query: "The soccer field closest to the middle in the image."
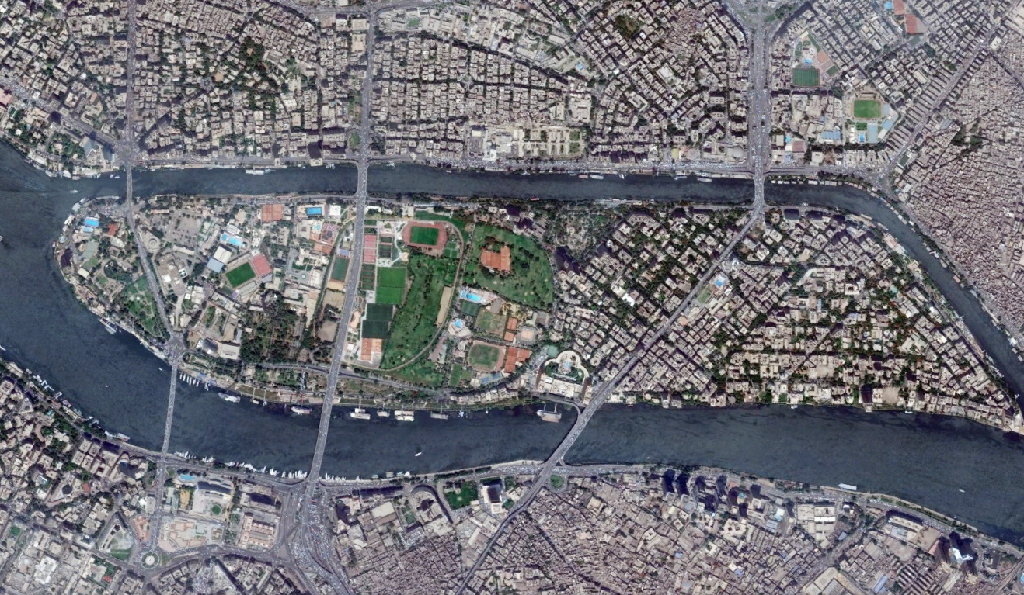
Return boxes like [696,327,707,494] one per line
[476,308,506,337]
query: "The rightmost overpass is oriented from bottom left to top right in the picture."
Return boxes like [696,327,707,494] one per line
[456,116,764,595]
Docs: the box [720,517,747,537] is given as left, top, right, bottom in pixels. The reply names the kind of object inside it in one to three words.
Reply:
building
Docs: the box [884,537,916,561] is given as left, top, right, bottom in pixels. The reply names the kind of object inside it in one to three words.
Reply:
shed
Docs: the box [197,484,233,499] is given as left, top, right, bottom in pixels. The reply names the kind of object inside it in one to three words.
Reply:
building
